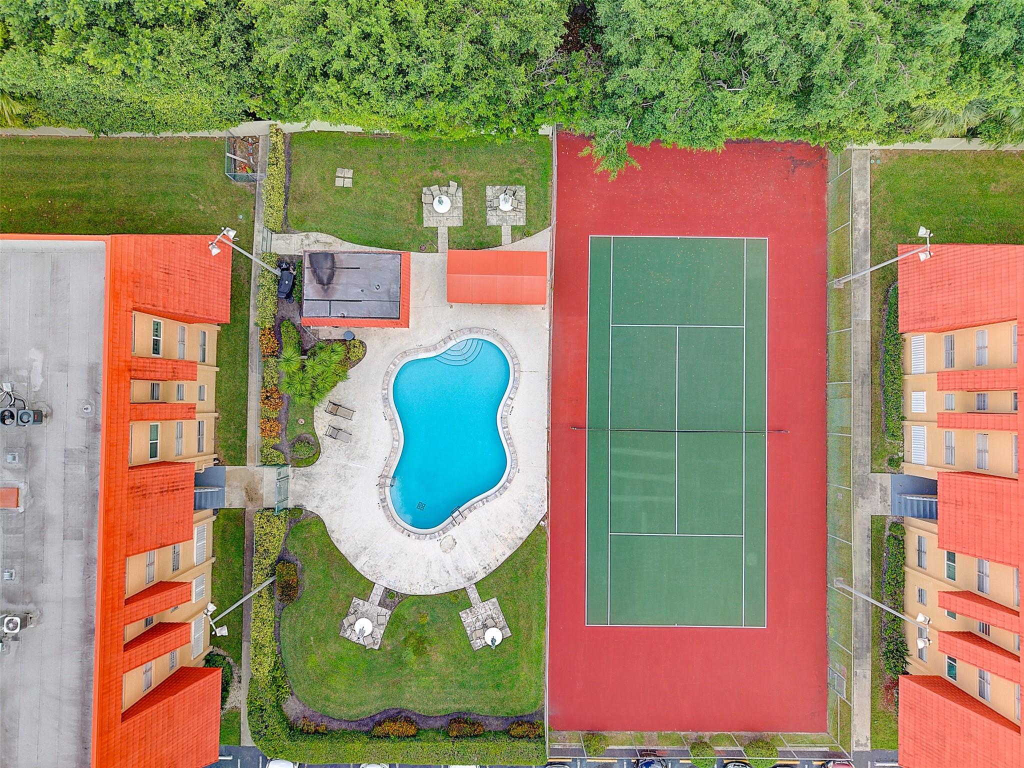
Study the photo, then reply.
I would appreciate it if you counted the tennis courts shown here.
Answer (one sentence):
The count comes to 1 tennis court.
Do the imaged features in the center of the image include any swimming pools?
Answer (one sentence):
Yes, a swimming pool appears in the center of the image.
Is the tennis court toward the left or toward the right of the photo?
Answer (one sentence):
The tennis court appears in the right half of the scene.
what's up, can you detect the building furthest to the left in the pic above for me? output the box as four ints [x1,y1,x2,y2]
[0,232,234,768]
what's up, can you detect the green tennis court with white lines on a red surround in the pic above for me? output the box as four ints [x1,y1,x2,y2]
[551,131,828,732]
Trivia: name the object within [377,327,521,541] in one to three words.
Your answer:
swimming pool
